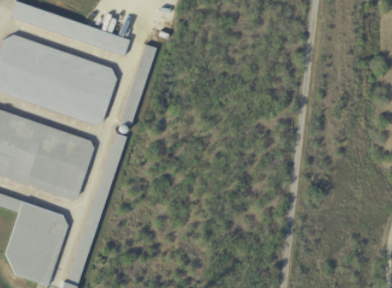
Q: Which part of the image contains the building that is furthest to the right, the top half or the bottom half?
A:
top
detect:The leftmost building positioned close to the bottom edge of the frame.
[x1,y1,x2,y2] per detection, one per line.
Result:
[6,202,70,286]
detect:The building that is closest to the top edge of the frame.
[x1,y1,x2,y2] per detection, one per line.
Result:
[11,0,130,54]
